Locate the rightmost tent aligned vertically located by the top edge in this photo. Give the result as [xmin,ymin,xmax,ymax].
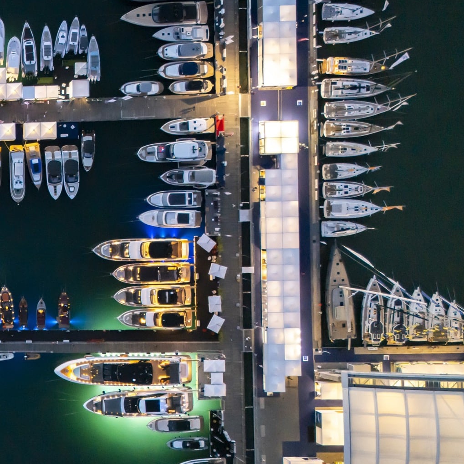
[256,0,297,89]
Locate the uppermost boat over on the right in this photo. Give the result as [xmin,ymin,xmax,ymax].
[319,0,381,21]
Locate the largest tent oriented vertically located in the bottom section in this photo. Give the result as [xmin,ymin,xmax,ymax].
[258,201,301,393]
